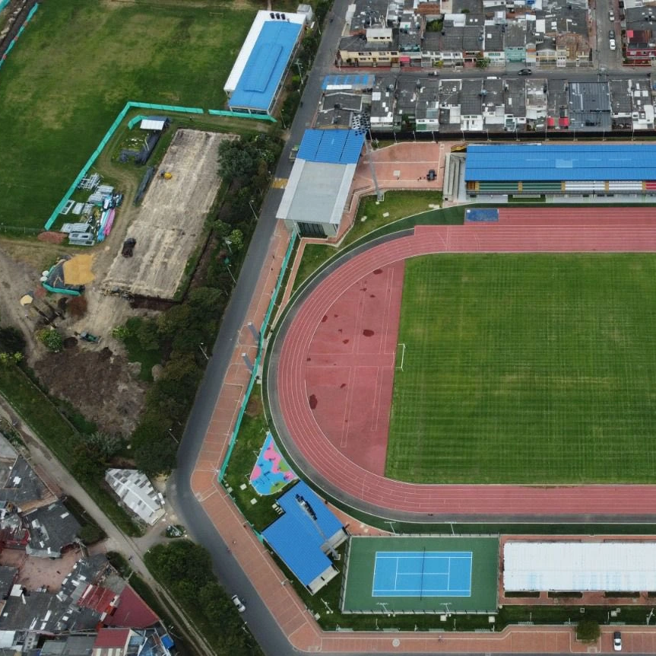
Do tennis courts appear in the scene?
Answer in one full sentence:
Yes, there's a tennis court here.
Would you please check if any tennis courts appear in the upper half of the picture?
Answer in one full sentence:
No, there's no tennis court to be seen in the upper half of the picture.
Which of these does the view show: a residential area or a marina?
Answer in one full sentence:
This looks like a residential area.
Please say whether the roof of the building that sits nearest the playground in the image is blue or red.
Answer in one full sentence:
The roof of the building that sits nearest the playground is blue.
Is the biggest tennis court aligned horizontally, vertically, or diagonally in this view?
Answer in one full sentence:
Seen from above, the biggest tennis court lies horizontally.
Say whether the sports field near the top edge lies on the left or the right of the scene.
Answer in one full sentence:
The sports field near the top edge sits on the left side.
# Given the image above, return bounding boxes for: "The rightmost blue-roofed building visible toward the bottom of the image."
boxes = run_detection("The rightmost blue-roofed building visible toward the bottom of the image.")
[263,479,353,598]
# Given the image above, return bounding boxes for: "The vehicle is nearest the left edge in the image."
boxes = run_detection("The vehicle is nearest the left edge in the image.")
[71,327,101,341]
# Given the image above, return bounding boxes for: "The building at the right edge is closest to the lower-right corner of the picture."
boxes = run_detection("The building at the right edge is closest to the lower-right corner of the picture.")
[504,541,656,592]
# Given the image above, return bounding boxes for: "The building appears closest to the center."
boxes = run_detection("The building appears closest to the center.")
[276,130,365,234]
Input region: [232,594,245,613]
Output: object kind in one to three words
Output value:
vehicle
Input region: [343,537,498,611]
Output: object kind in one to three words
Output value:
tennis court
